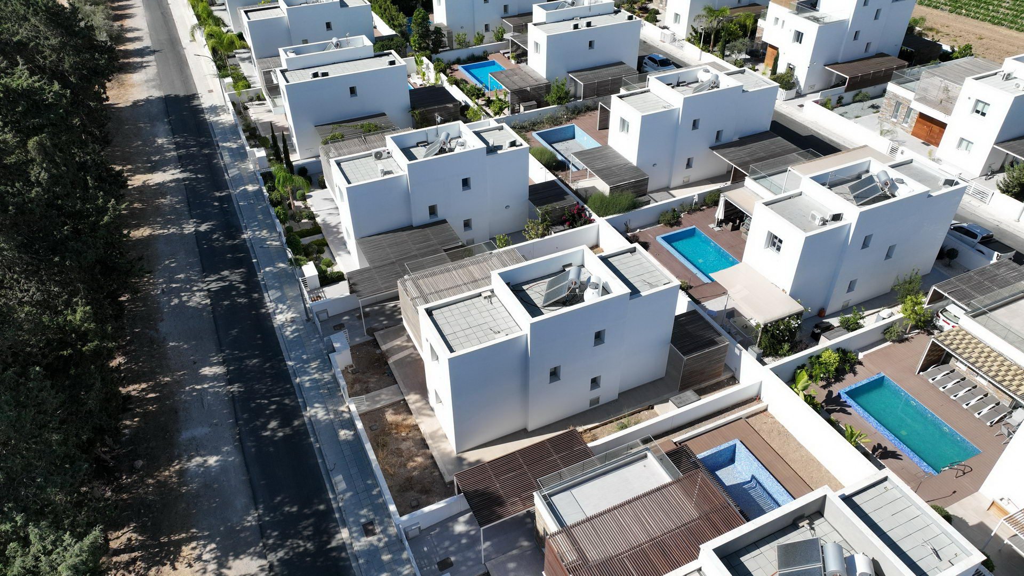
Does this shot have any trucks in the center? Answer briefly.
No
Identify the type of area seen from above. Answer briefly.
residential area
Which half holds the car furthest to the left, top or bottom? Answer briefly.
top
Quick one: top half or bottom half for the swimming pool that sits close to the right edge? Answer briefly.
bottom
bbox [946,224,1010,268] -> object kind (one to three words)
truck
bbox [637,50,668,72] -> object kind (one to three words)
car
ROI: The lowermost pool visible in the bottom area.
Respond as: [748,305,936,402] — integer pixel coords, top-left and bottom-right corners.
[698,438,795,518]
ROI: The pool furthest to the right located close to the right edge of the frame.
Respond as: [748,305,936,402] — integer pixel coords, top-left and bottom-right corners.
[840,371,985,474]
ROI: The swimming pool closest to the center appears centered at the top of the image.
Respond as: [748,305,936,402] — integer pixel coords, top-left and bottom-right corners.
[534,123,599,169]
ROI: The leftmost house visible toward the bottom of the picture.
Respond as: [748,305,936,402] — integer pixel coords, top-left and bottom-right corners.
[397,240,682,452]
